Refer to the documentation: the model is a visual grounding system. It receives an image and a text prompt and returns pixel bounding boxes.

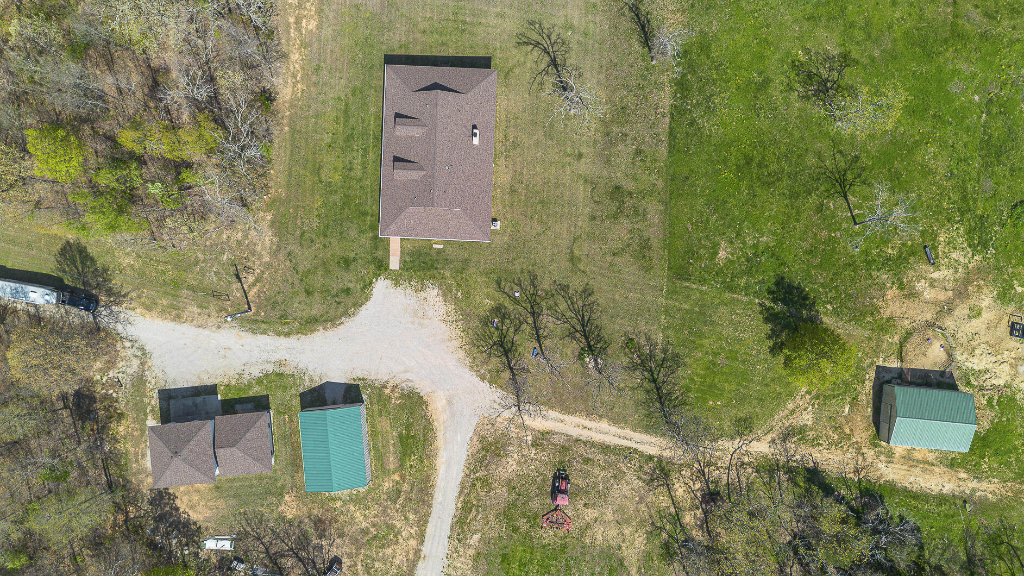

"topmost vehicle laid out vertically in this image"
[556,462,572,504]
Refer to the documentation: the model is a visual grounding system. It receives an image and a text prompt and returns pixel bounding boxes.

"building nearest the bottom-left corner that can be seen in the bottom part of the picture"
[147,411,276,489]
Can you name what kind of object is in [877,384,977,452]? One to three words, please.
barn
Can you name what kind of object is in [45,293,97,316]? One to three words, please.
truck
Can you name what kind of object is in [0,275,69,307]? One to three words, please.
trailer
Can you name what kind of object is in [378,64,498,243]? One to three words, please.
house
